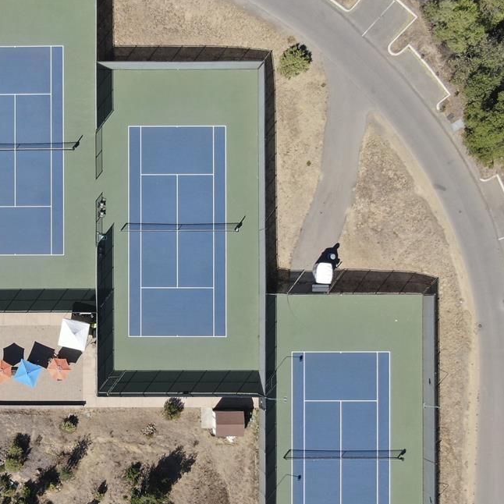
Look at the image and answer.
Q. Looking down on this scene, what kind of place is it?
sports ground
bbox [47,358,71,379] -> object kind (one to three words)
umbrella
